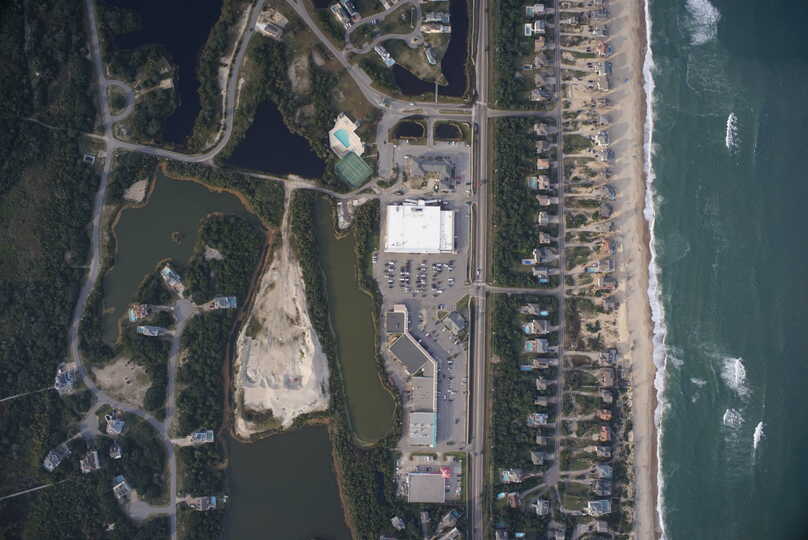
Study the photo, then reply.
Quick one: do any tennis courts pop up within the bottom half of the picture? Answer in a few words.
No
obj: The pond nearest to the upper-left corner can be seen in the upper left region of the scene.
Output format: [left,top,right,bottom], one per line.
[107,0,223,146]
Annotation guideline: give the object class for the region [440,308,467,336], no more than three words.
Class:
building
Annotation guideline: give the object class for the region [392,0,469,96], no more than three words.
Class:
pond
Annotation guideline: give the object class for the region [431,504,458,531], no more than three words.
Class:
house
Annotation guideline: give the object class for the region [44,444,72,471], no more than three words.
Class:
house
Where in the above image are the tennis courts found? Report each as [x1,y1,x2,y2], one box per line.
[335,152,372,187]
